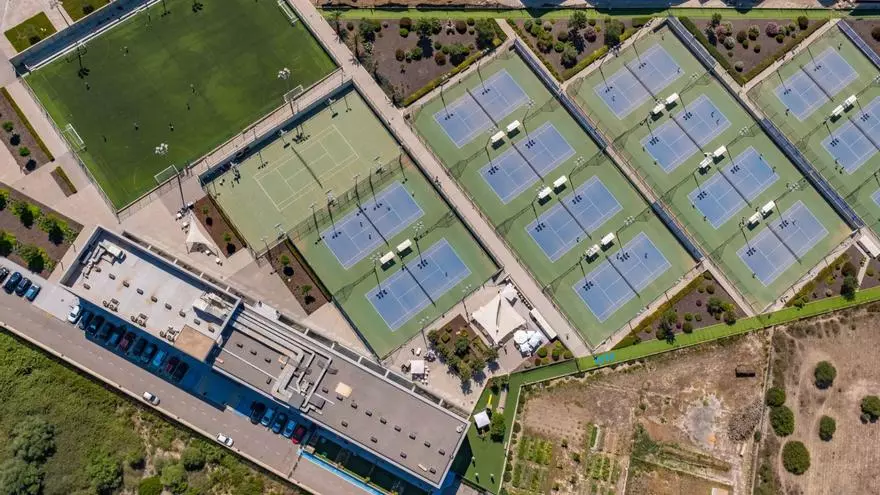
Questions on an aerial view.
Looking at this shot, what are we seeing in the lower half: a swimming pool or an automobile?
automobile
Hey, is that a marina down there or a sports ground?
sports ground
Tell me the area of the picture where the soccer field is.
top left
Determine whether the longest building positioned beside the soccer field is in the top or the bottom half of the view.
bottom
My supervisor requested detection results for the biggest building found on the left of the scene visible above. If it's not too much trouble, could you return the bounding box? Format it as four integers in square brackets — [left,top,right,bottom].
[58,224,470,487]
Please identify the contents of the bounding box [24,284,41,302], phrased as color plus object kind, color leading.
blue car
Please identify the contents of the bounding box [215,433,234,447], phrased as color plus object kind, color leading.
white vehicle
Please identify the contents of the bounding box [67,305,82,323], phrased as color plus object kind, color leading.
white car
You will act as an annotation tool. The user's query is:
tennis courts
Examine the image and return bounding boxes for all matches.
[547,208,699,351]
[750,21,880,142]
[798,77,880,196]
[406,46,555,171]
[710,176,857,314]
[567,21,710,142]
[499,153,649,287]
[206,88,408,255]
[453,99,601,229]
[290,156,453,297]
[662,123,805,254]
[614,71,757,197]
[334,212,498,358]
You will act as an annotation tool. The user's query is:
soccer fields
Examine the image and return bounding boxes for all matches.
[26,0,339,211]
